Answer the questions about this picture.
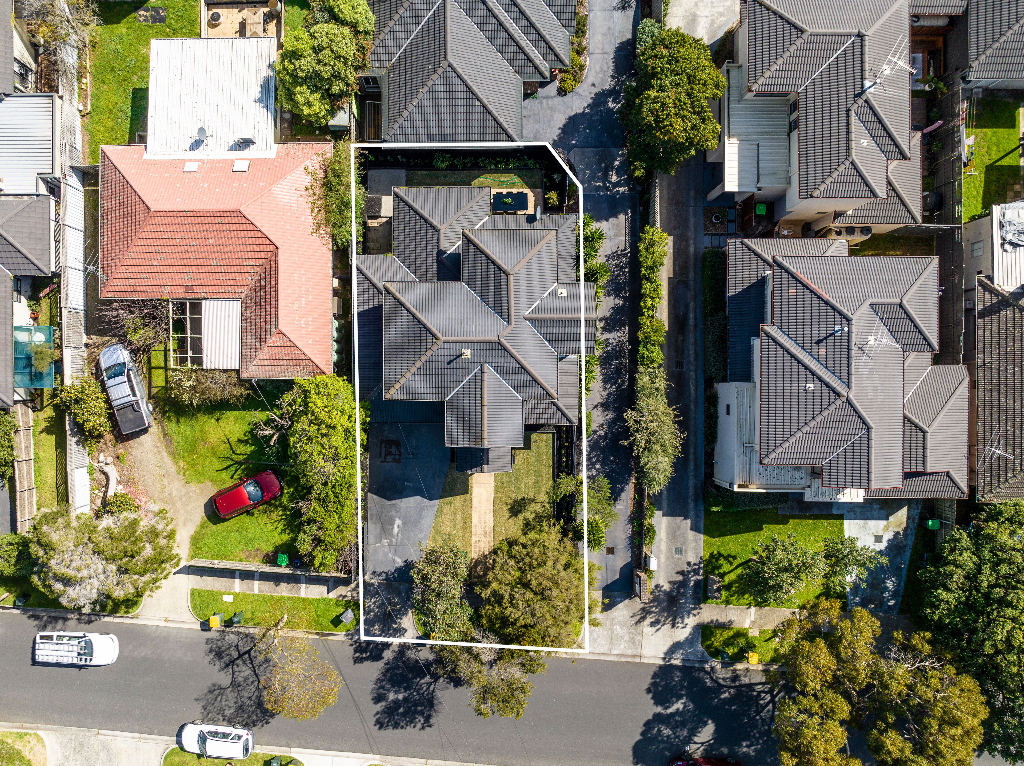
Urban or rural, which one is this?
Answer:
urban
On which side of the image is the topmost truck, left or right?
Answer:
left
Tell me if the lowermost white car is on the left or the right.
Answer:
left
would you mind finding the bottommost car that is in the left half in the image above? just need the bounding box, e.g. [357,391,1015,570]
[179,718,256,762]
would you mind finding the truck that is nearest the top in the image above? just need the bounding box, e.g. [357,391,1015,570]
[96,341,155,436]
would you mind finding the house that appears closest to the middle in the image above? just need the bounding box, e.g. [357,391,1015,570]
[351,184,599,475]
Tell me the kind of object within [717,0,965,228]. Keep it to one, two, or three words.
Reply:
house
